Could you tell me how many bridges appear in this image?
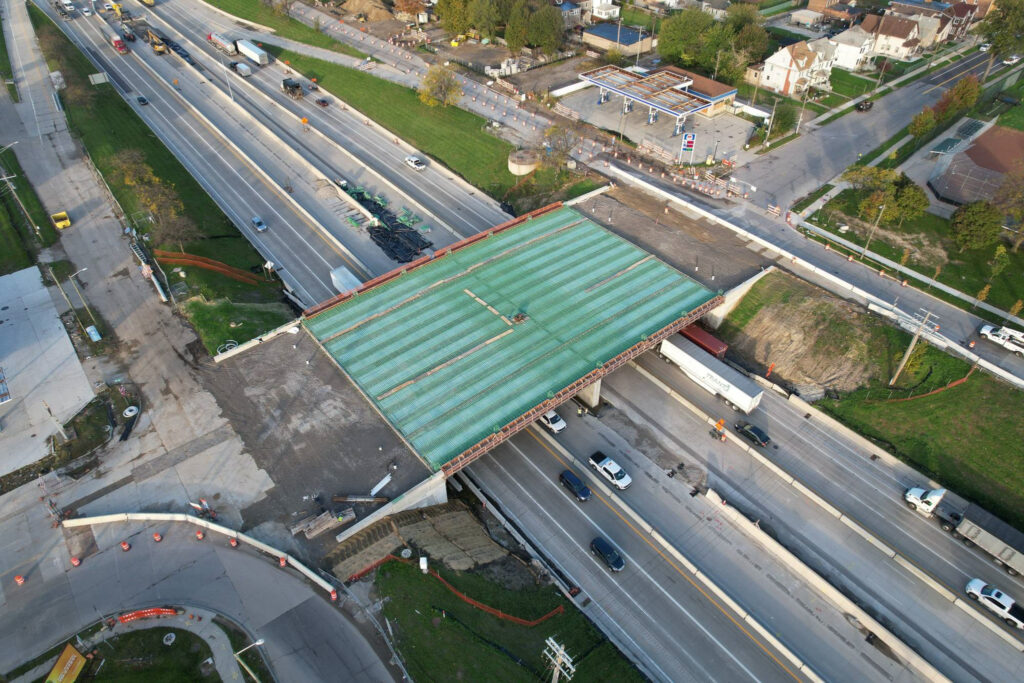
one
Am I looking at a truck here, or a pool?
truck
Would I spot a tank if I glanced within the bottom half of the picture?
No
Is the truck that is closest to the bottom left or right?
right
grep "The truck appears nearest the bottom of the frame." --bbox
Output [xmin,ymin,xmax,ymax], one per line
[961,575,1024,633]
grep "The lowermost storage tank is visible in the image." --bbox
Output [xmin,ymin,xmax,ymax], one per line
[509,150,537,179]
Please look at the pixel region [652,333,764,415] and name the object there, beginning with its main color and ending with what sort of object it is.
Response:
white truck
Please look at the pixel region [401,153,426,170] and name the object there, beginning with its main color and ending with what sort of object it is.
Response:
white vehicle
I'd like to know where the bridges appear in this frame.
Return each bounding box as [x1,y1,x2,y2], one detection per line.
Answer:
[300,199,729,482]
